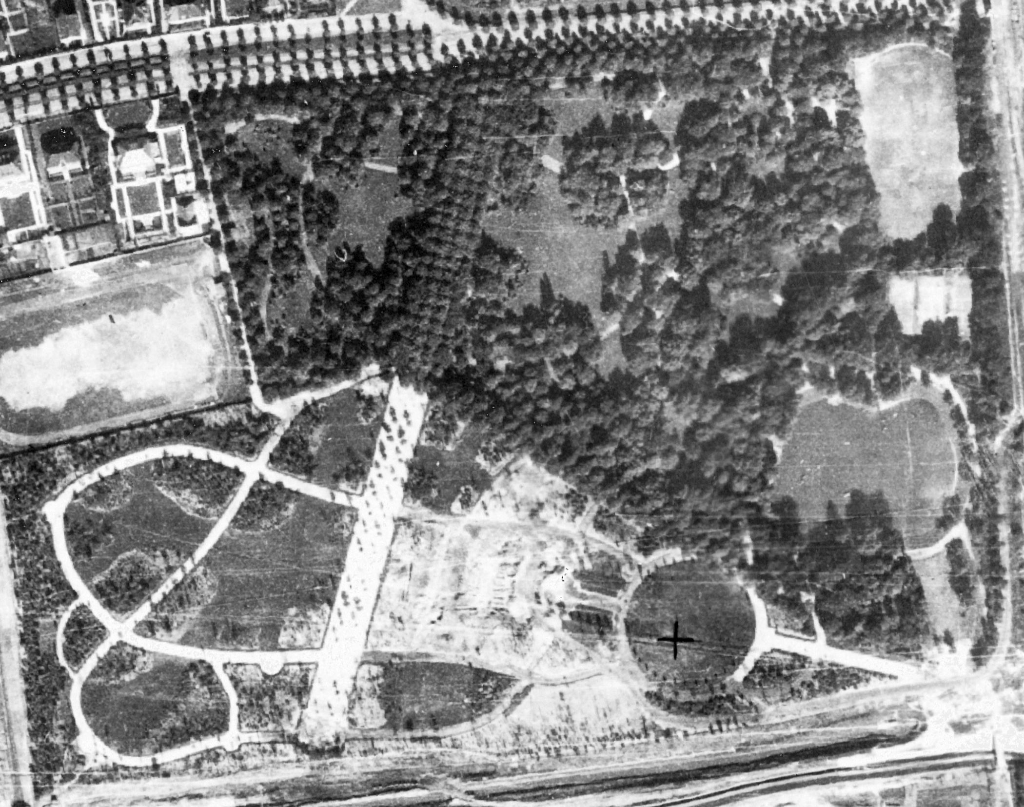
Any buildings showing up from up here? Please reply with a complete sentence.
Yes, a building appears in the view.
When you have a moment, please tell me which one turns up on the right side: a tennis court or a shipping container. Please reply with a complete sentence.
What appears on the right side is a tennis court.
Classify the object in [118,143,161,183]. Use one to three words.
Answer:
house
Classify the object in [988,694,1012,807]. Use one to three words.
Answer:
bridge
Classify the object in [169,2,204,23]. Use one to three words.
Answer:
house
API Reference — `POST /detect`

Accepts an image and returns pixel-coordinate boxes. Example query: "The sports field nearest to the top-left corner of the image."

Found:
[0,234,252,455]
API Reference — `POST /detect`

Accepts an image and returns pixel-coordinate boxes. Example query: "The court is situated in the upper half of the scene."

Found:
[888,276,972,342]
